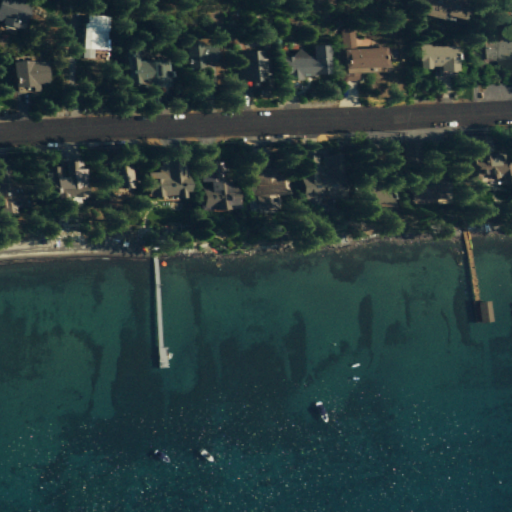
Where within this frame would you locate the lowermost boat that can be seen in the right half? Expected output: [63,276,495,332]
[315,401,328,422]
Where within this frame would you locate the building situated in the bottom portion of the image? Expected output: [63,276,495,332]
[476,300,494,323]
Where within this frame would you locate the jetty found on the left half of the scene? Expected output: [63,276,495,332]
[152,255,170,367]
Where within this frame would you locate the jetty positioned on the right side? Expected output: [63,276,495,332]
[462,233,478,302]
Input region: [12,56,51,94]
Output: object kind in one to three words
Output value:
house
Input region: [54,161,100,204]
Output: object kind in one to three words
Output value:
house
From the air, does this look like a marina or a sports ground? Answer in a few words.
marina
